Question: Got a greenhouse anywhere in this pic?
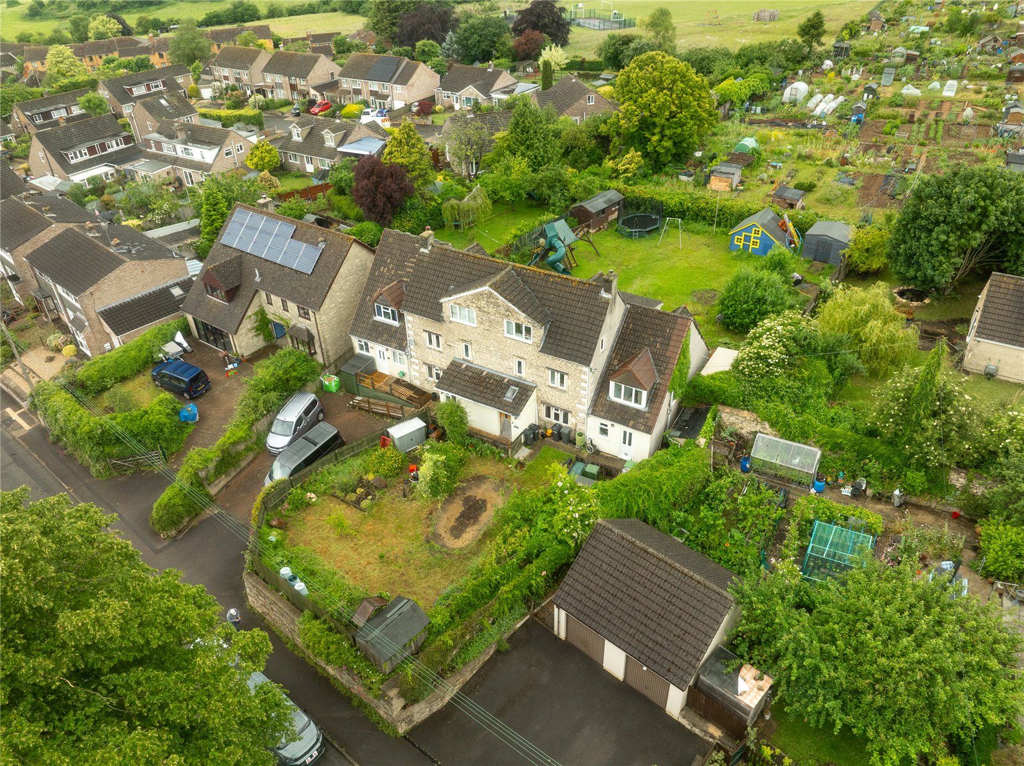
Yes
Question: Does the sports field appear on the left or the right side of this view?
right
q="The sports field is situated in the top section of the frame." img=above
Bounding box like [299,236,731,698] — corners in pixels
[538,0,918,61]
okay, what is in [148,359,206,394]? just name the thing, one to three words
car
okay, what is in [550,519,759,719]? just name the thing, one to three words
building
